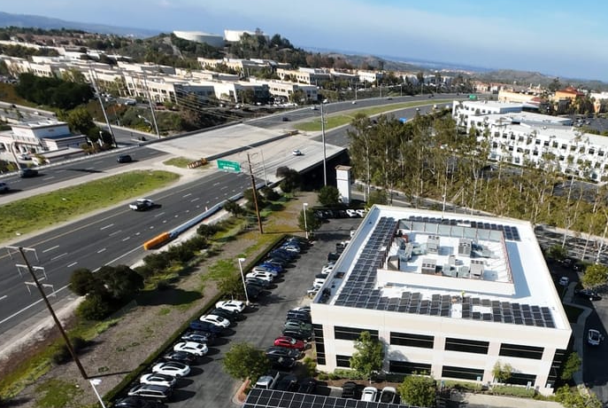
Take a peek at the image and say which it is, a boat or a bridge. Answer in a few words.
bridge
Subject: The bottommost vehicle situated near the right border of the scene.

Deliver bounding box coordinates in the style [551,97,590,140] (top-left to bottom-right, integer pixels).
[587,330,605,345]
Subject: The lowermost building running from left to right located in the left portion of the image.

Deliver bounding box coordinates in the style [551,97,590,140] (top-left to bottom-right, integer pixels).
[0,126,82,162]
